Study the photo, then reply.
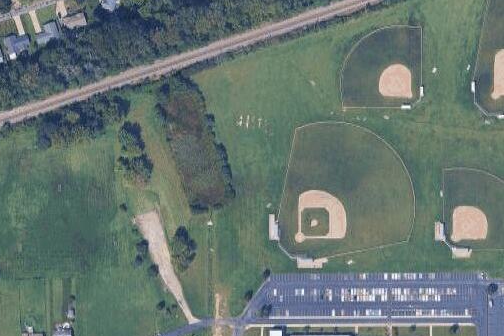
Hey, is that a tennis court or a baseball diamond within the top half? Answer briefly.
baseball diamond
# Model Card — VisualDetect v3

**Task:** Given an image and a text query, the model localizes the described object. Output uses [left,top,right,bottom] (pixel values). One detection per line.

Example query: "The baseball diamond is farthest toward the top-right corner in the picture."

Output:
[474,0,504,114]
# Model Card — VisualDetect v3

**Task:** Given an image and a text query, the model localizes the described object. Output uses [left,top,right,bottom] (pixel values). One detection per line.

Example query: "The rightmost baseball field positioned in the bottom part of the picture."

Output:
[442,166,504,251]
